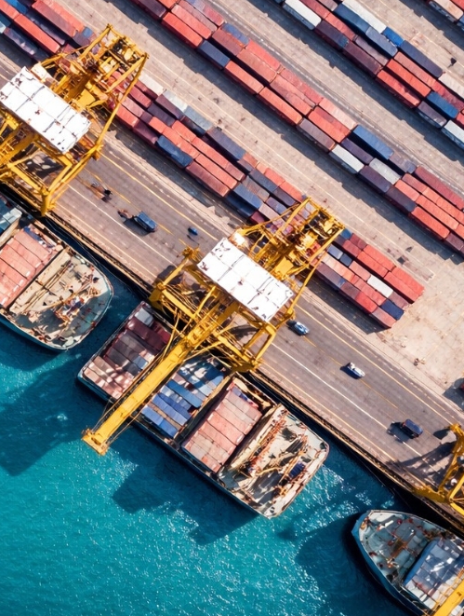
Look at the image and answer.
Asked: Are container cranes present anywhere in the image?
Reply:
Yes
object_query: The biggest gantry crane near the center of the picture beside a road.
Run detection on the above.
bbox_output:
[76,182,342,460]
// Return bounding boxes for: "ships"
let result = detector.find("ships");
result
[76,302,327,519]
[348,508,464,616]
[0,192,115,354]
